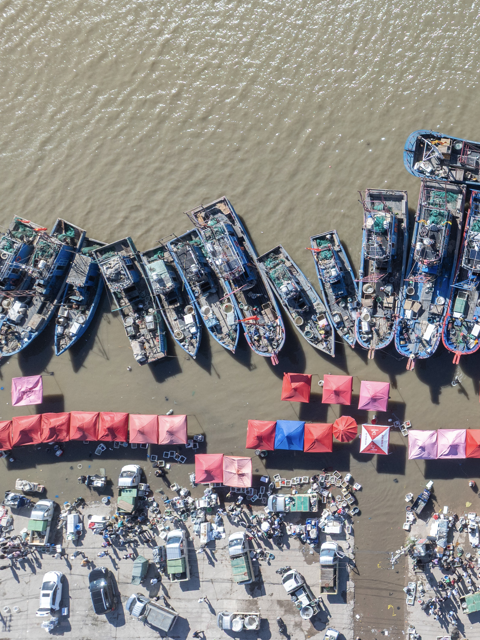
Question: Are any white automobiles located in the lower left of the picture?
Yes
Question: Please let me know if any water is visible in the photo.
Yes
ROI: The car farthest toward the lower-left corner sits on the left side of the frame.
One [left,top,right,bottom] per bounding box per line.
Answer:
[37,569,66,618]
